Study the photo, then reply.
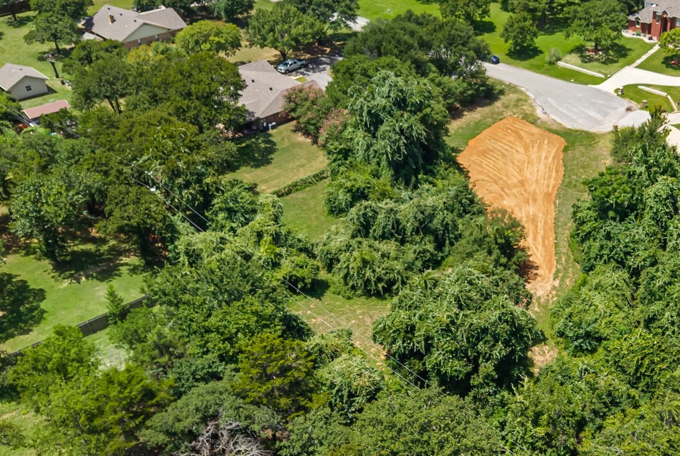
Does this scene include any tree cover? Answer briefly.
Yes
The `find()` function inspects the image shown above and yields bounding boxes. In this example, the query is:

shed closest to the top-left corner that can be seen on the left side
[0,63,51,103]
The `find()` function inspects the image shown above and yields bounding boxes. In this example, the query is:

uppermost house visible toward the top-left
[74,2,186,54]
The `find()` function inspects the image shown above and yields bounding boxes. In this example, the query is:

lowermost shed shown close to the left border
[21,100,74,128]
